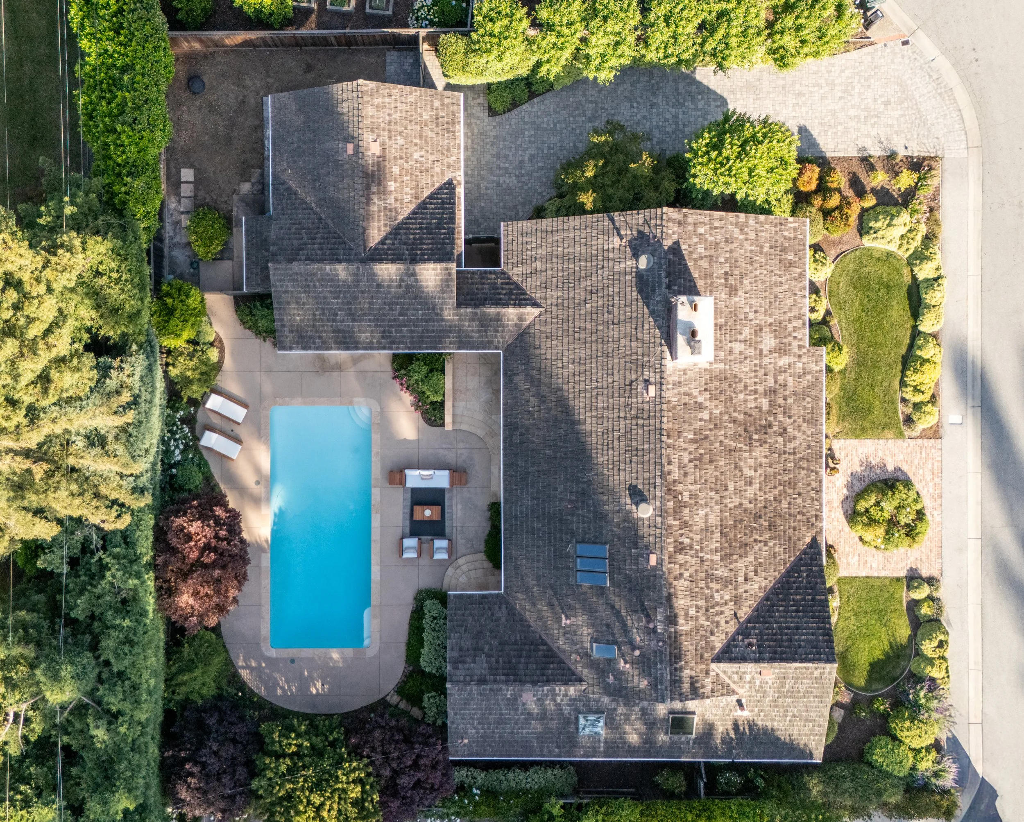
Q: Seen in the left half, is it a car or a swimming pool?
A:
swimming pool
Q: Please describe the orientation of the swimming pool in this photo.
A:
from top to bottom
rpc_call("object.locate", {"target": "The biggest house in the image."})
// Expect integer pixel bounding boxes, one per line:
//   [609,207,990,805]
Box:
[242,82,837,763]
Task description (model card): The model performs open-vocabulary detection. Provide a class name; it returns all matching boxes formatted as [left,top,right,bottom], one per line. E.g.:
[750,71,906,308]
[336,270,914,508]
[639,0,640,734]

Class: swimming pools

[270,405,372,649]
